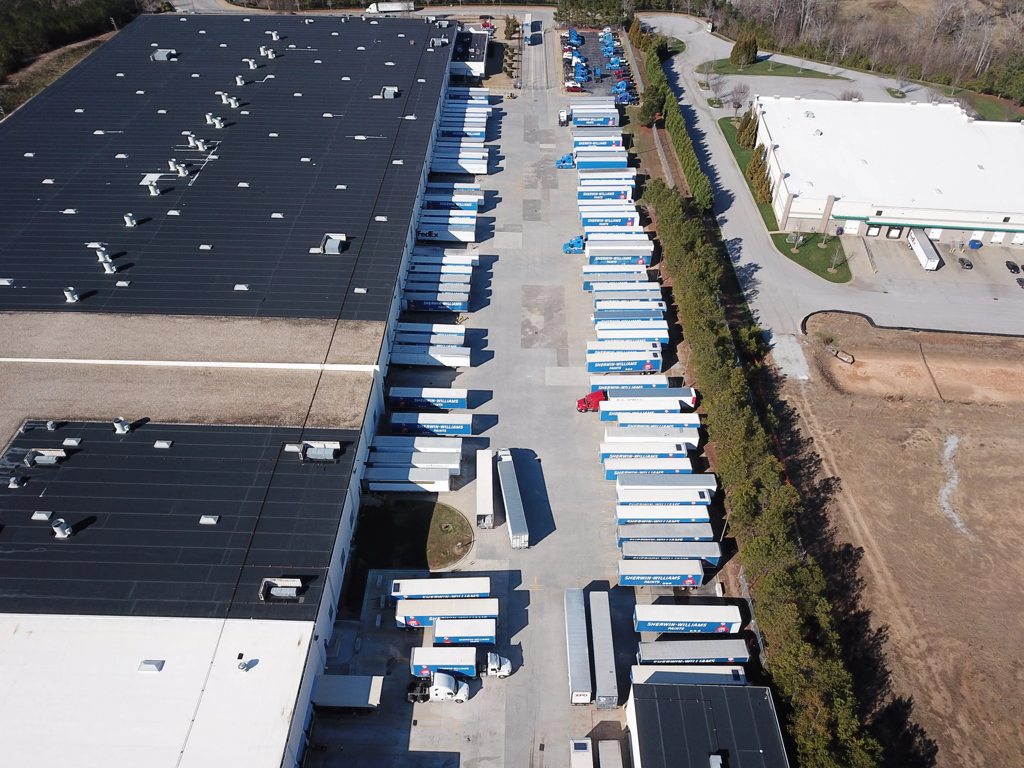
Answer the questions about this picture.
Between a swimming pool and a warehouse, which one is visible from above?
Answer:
warehouse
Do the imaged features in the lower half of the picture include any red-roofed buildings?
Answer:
No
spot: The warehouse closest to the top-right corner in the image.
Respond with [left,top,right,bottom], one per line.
[748,94,1024,246]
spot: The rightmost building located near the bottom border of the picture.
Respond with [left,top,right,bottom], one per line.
[628,684,789,768]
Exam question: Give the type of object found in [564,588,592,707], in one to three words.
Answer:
trailer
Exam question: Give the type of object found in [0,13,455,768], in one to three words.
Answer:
warehouse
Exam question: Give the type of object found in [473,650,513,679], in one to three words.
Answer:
truck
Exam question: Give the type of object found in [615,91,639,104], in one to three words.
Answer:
vehicle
